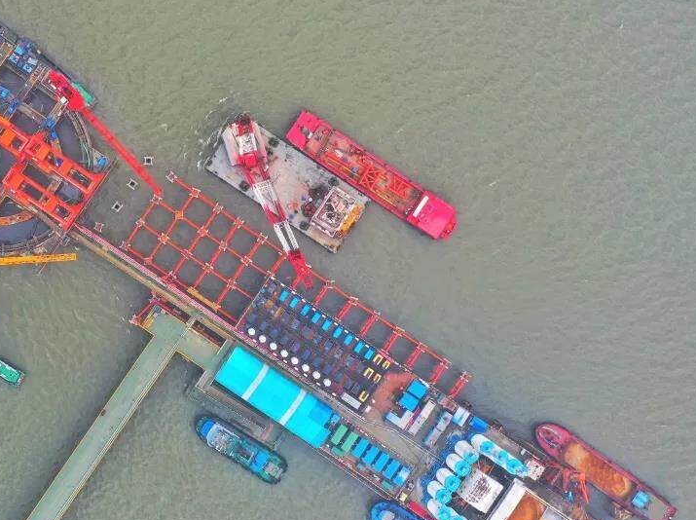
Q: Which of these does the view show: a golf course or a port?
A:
port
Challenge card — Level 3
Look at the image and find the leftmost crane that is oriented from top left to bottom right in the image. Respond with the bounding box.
[47,69,165,201]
